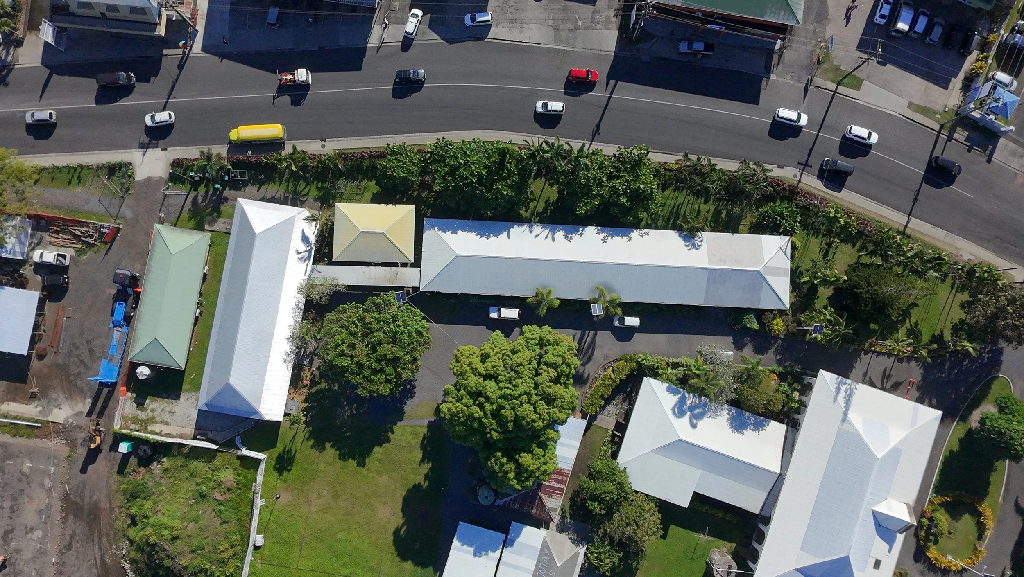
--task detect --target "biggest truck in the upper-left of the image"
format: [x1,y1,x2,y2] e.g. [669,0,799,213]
[229,124,291,146]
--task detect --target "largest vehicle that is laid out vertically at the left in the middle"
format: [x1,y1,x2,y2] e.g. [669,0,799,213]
[83,268,136,382]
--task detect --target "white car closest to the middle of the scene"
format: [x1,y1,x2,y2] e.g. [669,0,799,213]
[489,306,520,321]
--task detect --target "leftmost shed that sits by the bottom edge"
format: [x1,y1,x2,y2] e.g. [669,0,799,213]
[442,520,506,577]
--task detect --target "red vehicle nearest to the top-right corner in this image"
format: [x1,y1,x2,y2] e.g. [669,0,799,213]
[568,68,598,84]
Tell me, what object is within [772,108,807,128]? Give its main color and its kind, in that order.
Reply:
white car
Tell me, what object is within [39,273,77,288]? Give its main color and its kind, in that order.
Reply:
black car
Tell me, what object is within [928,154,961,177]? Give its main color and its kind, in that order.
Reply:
black car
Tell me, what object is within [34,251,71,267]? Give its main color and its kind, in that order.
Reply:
white car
